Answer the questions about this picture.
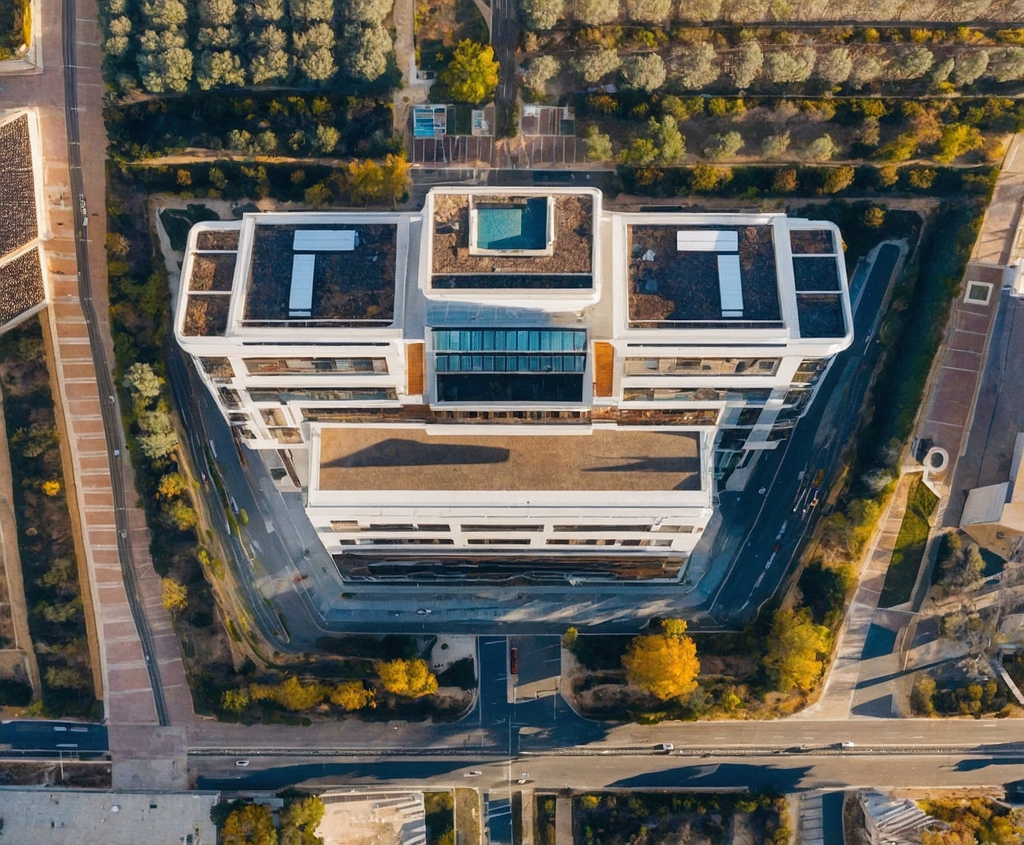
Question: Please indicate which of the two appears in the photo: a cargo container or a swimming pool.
swimming pool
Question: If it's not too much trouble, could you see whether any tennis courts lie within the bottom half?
No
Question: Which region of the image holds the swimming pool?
top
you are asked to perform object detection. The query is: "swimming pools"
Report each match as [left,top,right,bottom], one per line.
[475,207,547,249]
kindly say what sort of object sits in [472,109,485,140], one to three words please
building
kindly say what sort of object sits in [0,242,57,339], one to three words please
house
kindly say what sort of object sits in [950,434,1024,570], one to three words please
house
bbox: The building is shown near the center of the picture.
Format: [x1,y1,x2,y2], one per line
[175,187,853,582]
